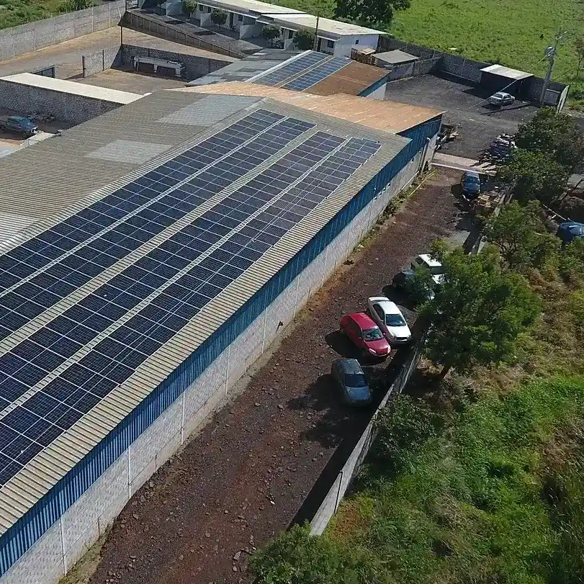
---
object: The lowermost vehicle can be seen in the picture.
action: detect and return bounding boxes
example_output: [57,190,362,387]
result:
[331,358,378,414]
